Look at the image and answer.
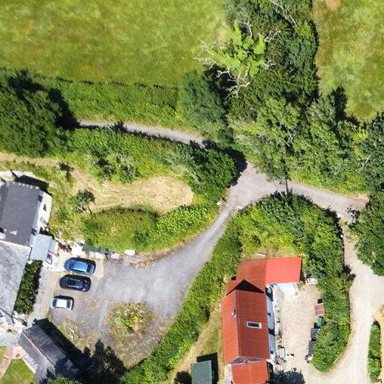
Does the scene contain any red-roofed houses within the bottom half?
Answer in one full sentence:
Yes, the scene does show a red-roofed house within the bottom half.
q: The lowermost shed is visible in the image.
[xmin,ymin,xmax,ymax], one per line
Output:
[191,360,219,384]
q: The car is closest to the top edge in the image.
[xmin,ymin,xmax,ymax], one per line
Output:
[65,259,97,274]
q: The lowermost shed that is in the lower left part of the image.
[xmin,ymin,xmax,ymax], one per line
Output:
[18,323,96,384]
